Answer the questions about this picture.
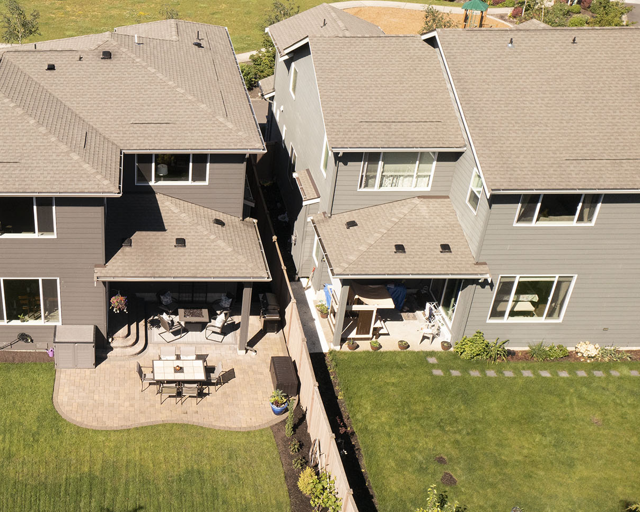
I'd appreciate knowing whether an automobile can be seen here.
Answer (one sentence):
No, no automobile is visible in the view.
